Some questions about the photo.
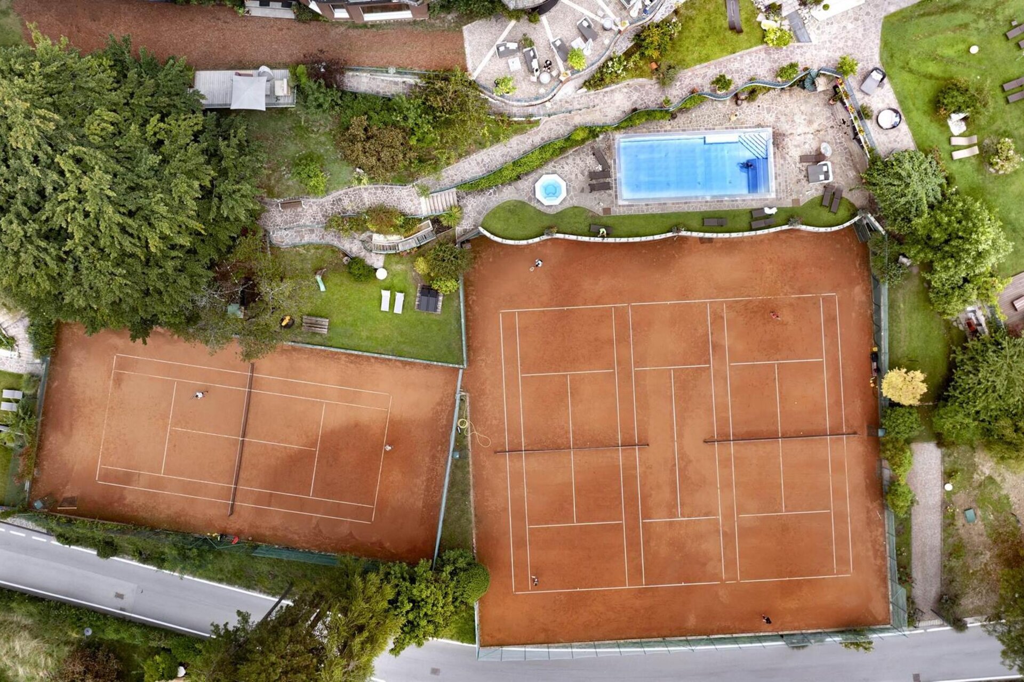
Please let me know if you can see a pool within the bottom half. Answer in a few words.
No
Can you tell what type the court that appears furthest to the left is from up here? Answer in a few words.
tennis court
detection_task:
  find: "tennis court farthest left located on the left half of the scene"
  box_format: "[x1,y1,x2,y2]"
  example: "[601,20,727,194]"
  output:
[30,323,463,563]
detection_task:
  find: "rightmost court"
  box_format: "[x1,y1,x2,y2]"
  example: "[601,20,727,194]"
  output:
[701,222,892,639]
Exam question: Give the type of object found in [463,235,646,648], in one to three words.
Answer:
tennis court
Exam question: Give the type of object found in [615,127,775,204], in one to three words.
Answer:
swimming pool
